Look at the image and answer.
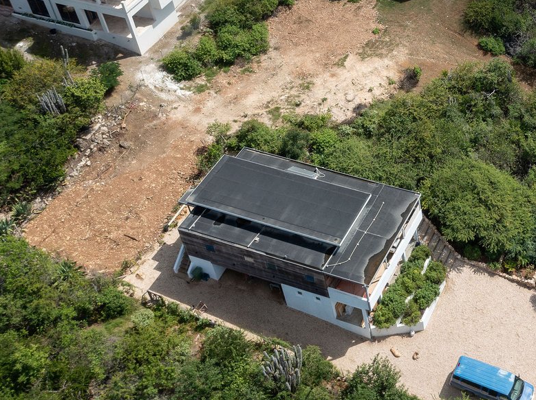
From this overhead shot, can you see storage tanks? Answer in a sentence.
No, no storage tank is visible in the scene.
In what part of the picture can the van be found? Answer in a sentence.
The van is in the bottom right part of the image.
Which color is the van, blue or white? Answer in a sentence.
The van looks blue in the image.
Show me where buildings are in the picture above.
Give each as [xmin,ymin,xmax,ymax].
[168,144,416,340]
[0,0,202,55]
